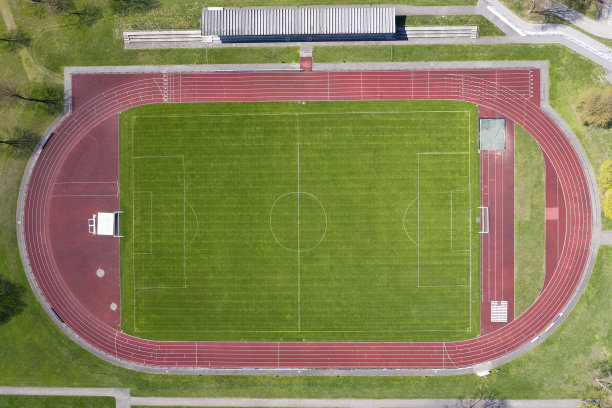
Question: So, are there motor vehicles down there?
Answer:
No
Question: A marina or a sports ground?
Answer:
sports ground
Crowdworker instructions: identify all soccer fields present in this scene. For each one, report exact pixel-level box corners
[119,100,481,342]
